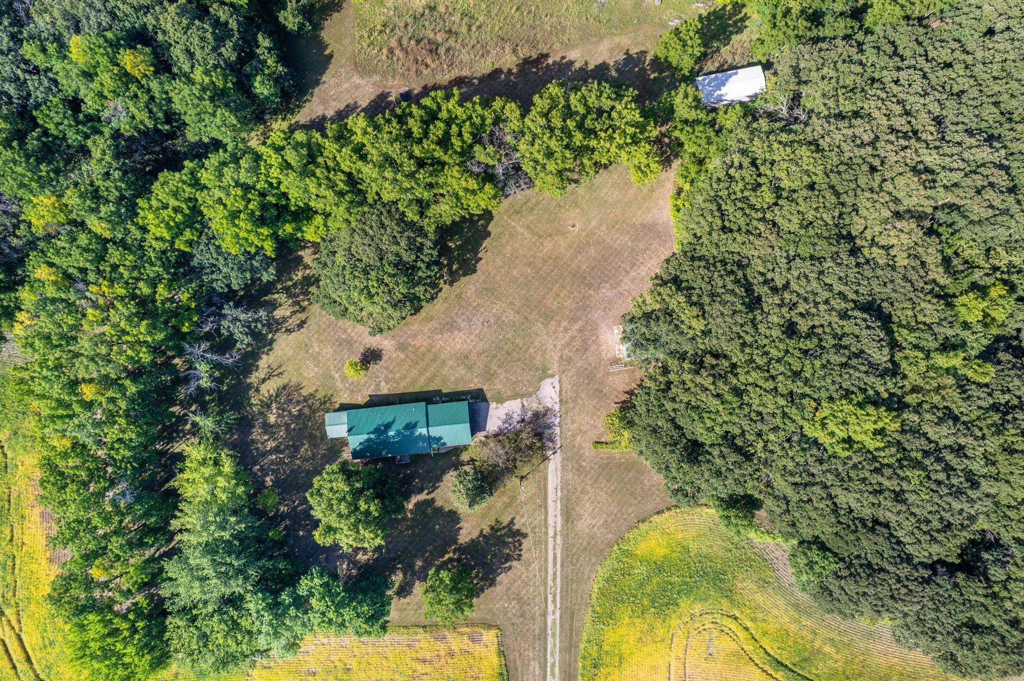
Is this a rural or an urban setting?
rural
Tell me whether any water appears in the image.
No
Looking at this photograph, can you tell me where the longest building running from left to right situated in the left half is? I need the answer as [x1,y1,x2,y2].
[325,400,472,461]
